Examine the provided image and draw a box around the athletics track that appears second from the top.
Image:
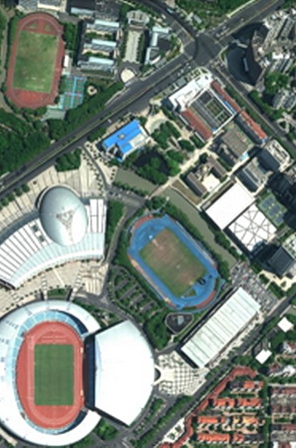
[127,215,218,309]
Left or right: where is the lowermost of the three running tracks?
left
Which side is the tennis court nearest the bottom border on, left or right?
right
